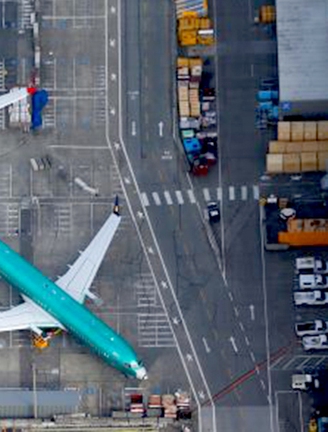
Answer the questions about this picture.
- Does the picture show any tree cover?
No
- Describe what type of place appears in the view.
airport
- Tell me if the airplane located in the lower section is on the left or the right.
left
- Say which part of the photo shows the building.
top right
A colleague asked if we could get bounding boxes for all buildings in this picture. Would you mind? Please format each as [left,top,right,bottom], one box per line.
[278,0,328,123]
